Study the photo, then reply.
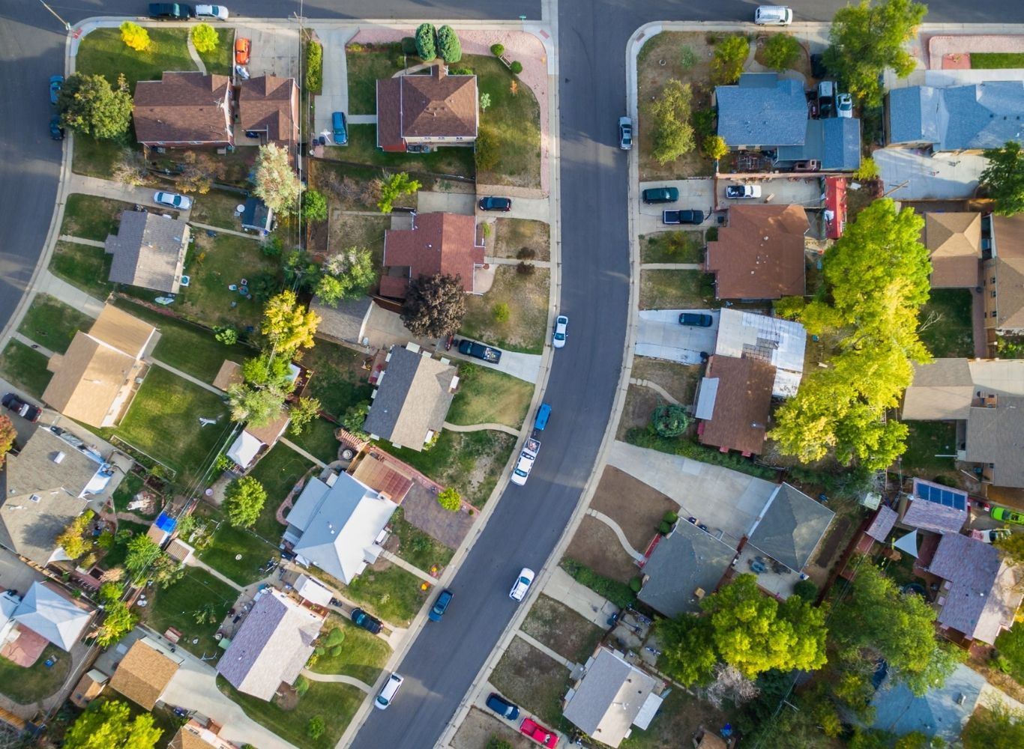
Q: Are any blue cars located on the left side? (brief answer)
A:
Yes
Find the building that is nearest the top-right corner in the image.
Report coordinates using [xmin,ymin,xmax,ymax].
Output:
[882,78,1024,156]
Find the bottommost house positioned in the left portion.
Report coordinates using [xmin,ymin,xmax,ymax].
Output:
[167,718,242,749]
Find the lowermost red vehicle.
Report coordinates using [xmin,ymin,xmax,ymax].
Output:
[516,715,562,749]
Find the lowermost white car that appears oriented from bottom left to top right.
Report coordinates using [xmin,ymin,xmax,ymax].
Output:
[373,669,404,711]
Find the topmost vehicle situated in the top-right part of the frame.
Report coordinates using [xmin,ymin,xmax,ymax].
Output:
[754,3,793,25]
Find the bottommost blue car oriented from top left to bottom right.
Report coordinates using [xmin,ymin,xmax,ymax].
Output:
[483,691,522,722]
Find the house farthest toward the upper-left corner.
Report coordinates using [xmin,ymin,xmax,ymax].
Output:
[130,71,239,147]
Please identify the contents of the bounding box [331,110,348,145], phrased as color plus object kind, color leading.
blue car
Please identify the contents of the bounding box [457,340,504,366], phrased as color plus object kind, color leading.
black truck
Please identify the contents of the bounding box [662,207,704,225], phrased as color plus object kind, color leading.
black vehicle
